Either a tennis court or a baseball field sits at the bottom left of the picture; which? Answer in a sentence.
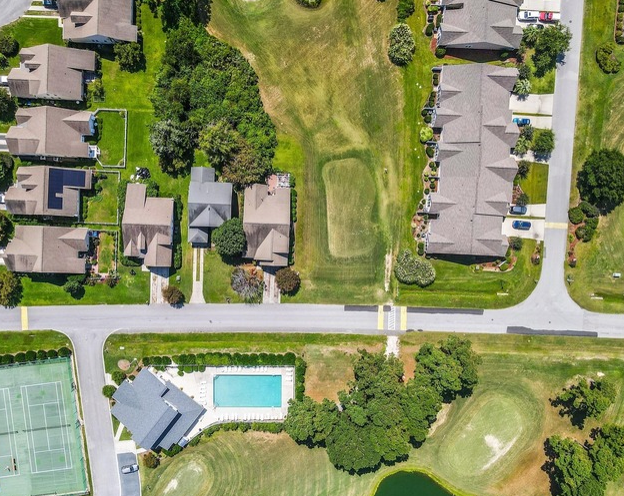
What appears at the bottom left of the picture is a tennis court.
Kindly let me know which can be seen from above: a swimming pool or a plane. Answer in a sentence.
The one in the frame is a swimming pool.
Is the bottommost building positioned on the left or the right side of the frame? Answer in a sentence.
The bottommost building is on the left side of the image.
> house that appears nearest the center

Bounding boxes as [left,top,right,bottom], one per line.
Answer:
[244,182,290,266]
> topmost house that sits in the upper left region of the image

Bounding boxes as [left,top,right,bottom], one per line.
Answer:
[57,0,133,42]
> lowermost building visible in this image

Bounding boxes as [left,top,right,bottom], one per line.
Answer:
[108,368,206,451]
